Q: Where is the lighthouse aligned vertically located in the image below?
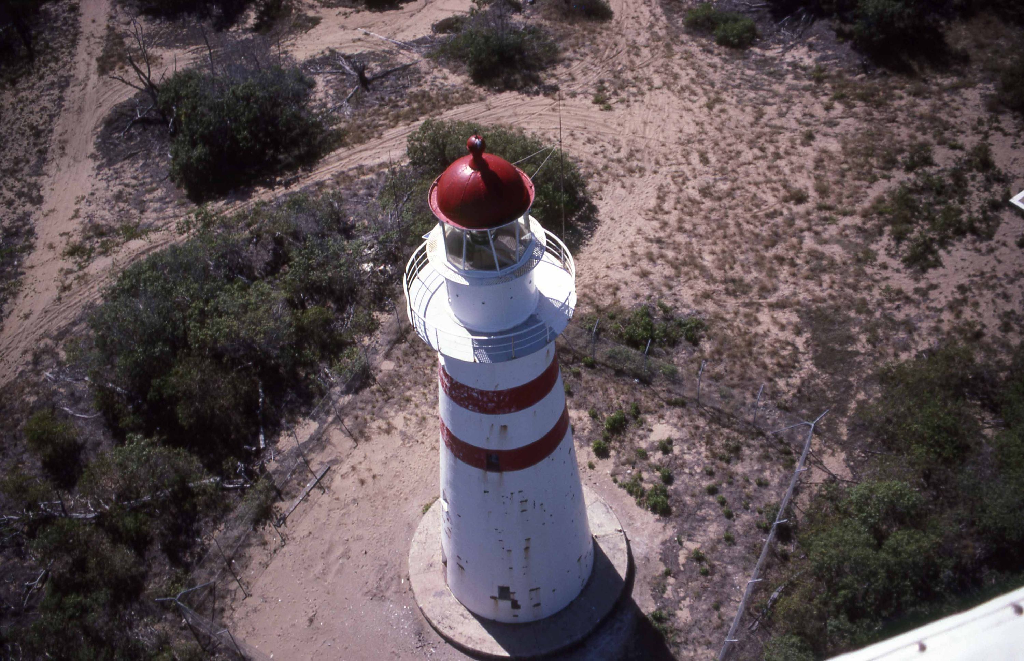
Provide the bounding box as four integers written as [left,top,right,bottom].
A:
[400,123,627,661]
